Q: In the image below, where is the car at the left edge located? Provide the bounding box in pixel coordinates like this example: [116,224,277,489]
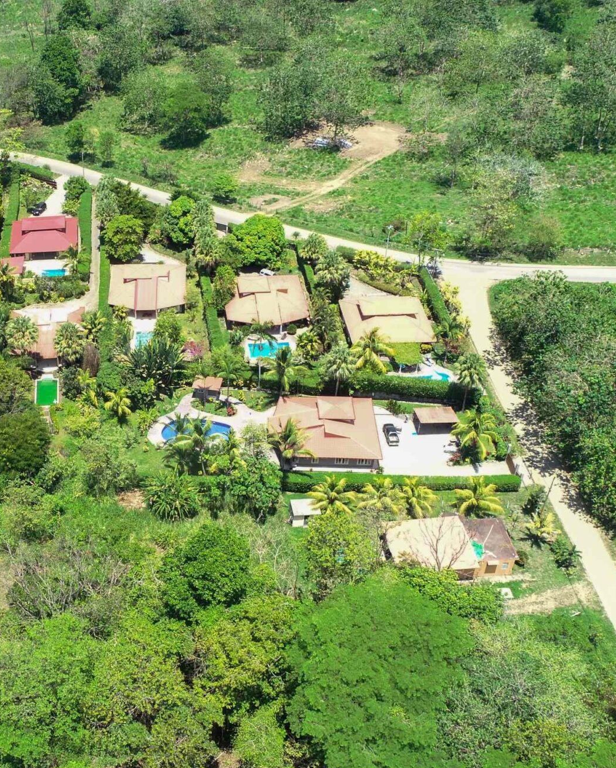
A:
[31,203,47,216]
